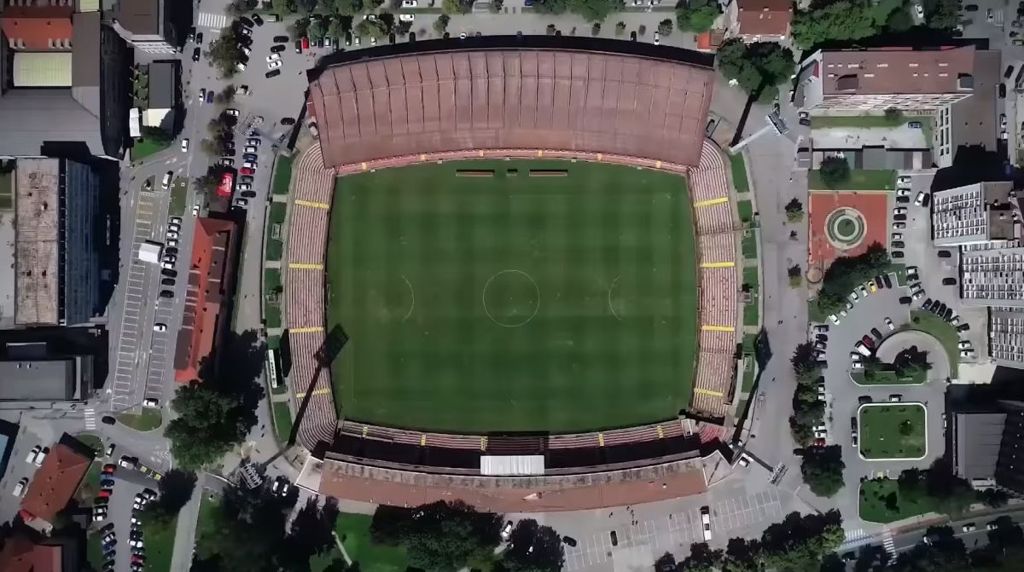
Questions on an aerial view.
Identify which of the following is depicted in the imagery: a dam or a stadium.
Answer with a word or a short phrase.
stadium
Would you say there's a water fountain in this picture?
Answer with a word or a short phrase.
Yes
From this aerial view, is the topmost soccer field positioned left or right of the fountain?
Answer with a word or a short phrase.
to its left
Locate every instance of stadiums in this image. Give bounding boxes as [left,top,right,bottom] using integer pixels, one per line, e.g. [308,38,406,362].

[280,48,744,514]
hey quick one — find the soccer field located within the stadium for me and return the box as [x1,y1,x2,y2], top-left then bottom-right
[328,161,698,436]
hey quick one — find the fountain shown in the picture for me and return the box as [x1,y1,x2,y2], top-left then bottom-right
[825,207,867,249]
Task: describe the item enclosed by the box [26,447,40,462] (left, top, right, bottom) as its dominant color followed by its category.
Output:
white vehicle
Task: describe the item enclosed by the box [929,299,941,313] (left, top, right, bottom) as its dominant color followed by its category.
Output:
black vehicle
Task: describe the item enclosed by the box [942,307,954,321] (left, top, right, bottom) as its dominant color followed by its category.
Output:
black vehicle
